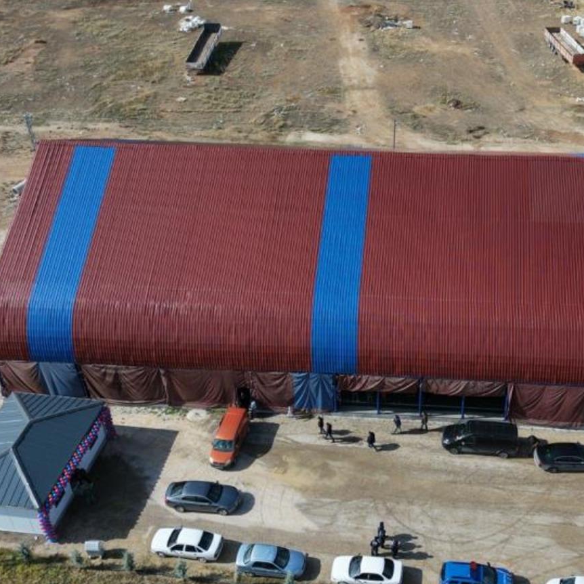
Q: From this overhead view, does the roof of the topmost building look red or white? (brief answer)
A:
red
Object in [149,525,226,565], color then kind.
white car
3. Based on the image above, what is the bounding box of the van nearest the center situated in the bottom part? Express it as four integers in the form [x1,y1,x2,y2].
[211,402,250,463]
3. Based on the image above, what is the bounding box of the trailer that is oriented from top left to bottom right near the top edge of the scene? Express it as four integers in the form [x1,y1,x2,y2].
[544,25,584,65]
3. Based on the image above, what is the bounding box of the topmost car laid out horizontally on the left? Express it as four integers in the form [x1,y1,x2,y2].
[163,480,243,517]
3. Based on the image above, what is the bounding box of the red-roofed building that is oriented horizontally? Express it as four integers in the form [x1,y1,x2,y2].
[0,140,584,427]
